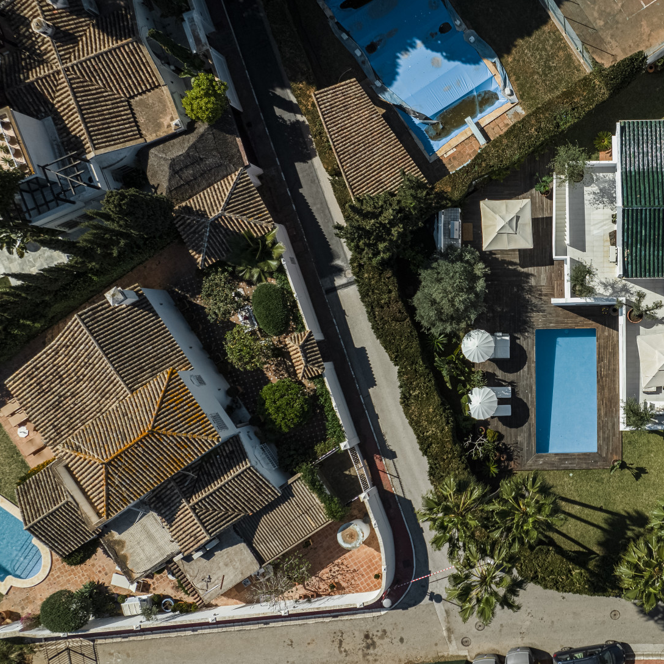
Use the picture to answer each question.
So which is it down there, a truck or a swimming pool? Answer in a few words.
swimming pool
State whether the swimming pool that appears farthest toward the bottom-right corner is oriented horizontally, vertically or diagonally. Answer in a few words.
vertically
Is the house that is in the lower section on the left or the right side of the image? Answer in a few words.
left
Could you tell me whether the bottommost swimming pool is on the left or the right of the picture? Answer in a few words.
left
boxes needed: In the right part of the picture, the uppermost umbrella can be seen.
[481,199,533,251]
